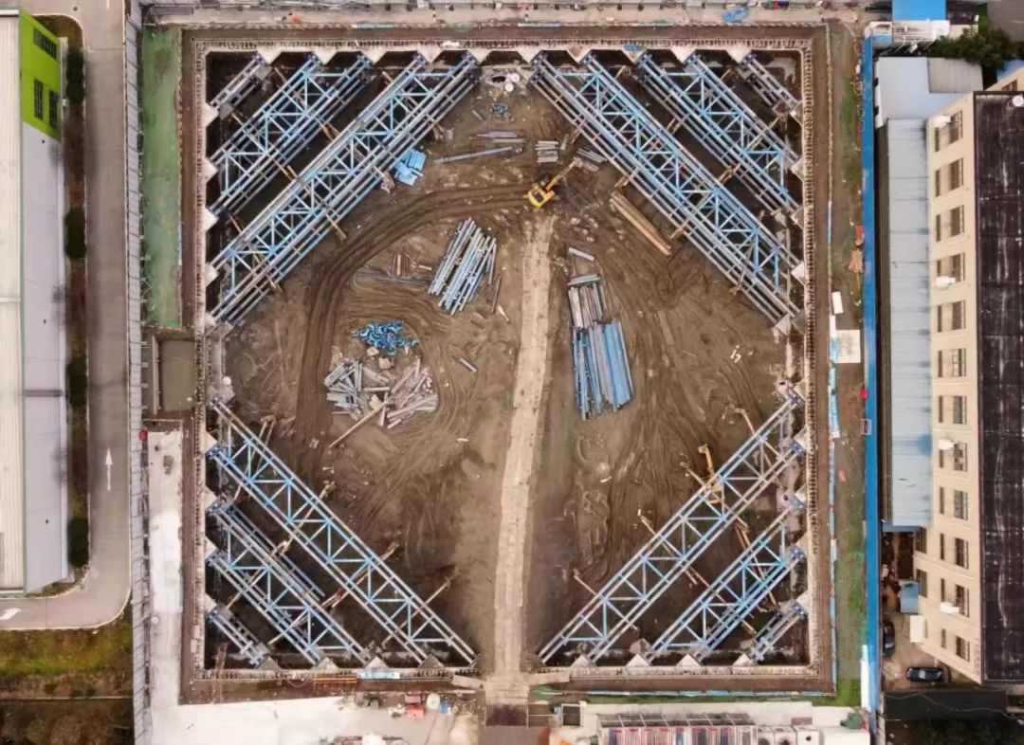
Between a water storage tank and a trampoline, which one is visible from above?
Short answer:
water storage tank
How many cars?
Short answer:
2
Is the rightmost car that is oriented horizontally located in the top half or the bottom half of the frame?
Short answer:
bottom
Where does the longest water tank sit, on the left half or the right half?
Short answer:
left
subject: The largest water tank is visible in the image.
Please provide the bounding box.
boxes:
[151,330,194,418]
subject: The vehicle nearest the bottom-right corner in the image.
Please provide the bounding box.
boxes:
[904,663,945,684]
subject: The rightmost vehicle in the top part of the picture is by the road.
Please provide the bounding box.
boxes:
[524,157,579,213]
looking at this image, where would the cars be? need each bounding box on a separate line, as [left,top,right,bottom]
[879,618,899,658]
[904,663,945,684]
